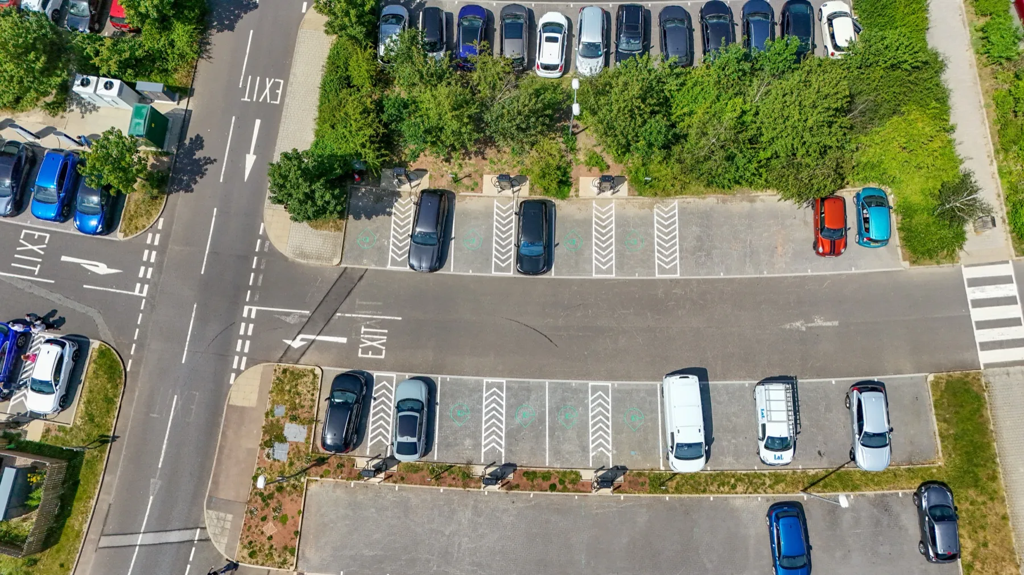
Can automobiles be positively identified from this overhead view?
Yes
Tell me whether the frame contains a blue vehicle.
Yes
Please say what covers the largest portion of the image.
paved ground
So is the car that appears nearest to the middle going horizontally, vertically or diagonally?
vertically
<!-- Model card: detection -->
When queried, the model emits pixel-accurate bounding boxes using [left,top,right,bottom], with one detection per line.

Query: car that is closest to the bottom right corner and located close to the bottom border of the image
[910,484,967,562]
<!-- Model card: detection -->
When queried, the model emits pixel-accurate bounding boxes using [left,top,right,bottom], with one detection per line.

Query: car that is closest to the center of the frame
[513,201,552,274]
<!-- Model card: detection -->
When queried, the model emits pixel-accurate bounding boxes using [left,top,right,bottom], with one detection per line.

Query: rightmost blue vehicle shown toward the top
[851,190,895,246]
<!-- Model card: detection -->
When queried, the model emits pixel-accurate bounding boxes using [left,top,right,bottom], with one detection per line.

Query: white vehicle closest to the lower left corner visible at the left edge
[24,340,80,411]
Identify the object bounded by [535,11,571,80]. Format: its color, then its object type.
white car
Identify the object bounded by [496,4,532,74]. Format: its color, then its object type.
gray car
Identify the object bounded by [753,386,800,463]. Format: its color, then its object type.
white van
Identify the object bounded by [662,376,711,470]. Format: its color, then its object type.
white van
